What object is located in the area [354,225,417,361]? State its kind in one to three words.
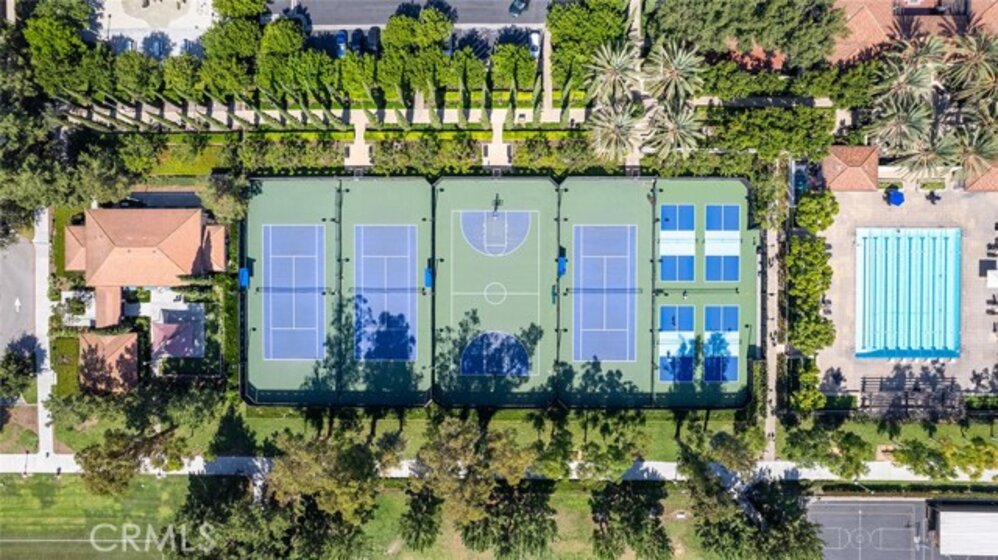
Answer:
tennis court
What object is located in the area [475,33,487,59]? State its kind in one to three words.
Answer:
vehicle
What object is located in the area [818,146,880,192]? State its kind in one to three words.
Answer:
building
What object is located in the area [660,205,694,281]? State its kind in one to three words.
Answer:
sports court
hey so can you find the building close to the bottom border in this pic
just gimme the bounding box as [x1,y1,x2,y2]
[912,493,998,554]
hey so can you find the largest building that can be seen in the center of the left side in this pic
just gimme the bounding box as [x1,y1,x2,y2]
[64,208,229,328]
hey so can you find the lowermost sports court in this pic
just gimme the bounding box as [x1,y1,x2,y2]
[806,497,926,560]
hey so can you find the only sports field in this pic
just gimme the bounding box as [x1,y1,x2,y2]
[0,476,205,560]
